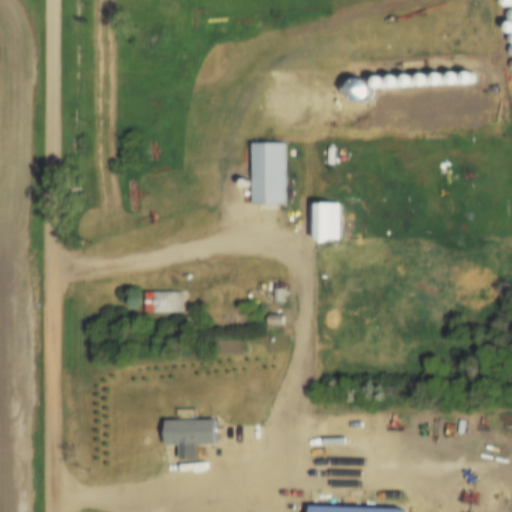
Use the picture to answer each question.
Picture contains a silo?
Yes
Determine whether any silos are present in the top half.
Yes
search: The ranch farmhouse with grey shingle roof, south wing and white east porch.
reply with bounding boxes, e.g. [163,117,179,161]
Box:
[162,410,218,459]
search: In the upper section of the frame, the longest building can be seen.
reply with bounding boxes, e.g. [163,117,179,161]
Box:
[252,142,288,210]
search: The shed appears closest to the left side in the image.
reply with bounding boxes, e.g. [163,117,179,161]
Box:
[144,292,189,313]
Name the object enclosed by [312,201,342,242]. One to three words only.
shed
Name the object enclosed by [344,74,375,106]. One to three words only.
silo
